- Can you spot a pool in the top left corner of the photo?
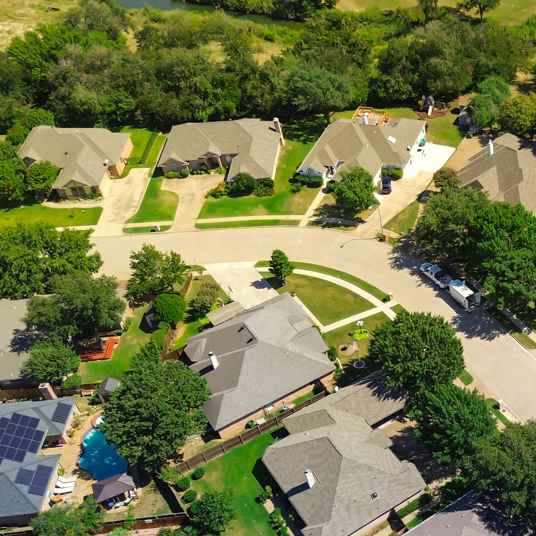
No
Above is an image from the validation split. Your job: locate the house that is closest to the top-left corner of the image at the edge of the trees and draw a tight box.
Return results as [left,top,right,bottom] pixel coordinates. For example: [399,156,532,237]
[18,124,133,202]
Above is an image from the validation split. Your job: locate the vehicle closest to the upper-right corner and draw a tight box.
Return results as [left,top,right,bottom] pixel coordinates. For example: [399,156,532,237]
[380,179,393,194]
